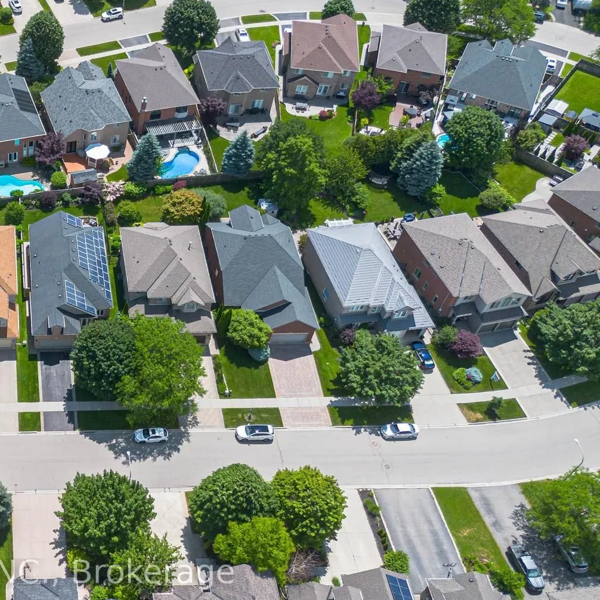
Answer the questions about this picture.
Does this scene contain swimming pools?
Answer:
Yes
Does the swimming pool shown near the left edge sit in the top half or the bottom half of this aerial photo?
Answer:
top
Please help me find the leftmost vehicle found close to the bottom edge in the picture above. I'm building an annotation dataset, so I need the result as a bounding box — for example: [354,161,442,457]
[505,543,545,598]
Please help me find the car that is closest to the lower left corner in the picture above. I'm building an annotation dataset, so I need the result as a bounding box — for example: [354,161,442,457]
[131,426,172,446]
